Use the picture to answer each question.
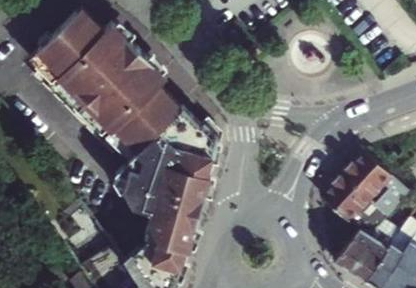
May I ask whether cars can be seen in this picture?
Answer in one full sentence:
Yes, there's a car here.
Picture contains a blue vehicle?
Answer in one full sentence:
Yes, the image includes a blue vehicle.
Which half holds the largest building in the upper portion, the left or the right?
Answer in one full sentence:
You can find the largest building in the upper portion on the left side of the picture.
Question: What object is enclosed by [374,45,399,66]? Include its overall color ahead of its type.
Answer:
blue car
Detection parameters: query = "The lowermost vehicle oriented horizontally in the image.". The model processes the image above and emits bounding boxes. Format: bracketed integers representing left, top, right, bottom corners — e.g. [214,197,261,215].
[346,102,372,116]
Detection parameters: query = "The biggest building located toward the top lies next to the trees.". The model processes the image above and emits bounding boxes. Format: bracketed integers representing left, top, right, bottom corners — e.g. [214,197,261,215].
[57,28,182,146]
